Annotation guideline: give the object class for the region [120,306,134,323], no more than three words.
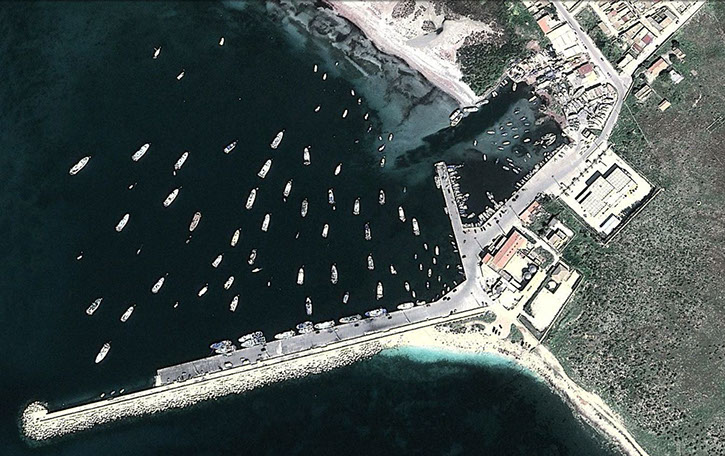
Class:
boat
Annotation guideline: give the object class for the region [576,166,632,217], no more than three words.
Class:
building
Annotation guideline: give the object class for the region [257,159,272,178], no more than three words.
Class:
boat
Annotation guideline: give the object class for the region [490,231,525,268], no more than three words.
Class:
building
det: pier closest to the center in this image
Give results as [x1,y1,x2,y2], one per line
[435,160,462,241]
